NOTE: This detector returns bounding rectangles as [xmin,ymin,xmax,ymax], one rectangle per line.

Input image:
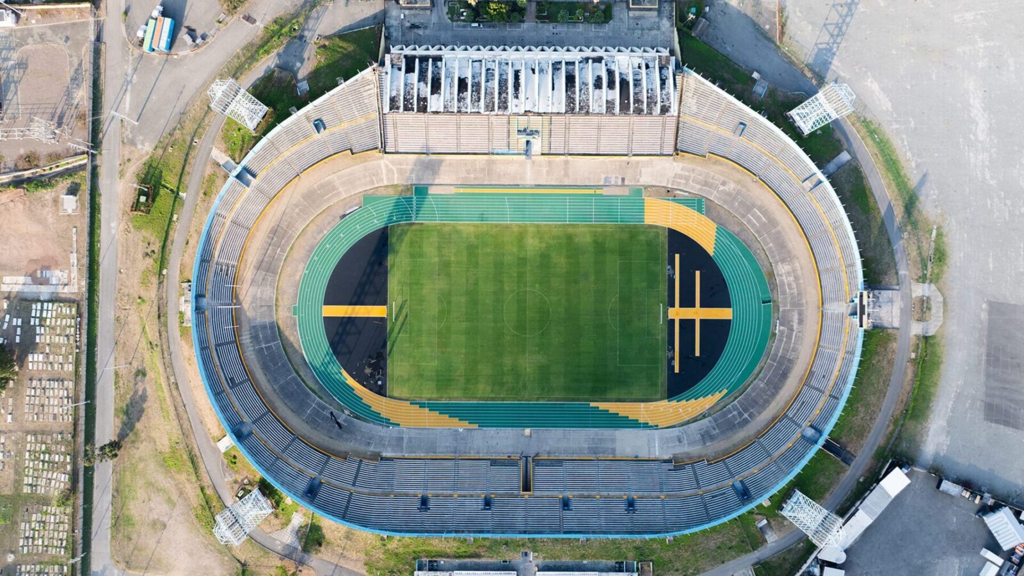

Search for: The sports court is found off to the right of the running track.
[982,301,1024,430]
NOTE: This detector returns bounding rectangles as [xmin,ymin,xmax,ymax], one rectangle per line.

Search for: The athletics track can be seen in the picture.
[293,186,772,429]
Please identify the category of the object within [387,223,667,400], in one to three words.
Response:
soccer field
